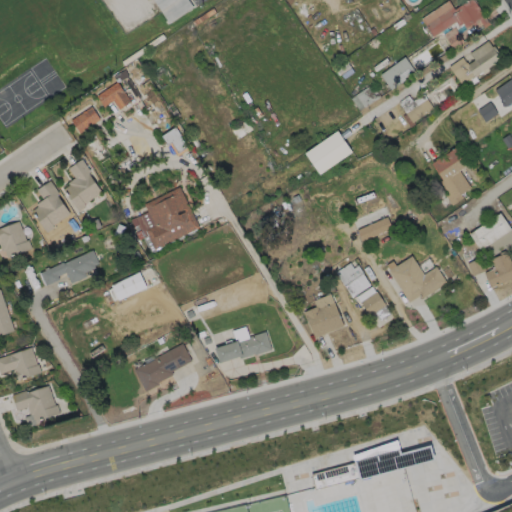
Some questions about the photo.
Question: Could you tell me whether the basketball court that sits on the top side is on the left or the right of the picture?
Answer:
left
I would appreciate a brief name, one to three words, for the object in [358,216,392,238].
shed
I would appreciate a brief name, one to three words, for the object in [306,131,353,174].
barn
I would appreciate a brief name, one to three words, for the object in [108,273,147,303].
building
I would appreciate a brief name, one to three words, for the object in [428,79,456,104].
house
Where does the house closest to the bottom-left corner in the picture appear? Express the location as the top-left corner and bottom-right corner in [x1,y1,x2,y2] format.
[12,384,60,426]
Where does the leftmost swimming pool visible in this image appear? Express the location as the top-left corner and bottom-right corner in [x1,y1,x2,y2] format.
[1,206,18,223]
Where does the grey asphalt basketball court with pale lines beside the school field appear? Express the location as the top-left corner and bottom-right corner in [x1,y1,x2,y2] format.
[0,58,66,126]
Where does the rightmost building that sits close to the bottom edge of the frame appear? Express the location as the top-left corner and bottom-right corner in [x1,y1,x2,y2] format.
[314,464,358,490]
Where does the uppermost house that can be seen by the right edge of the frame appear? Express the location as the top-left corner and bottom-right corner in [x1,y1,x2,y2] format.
[422,0,489,36]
